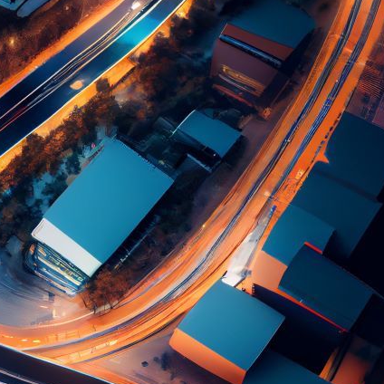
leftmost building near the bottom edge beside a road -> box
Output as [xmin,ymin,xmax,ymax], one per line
[160,279,284,384]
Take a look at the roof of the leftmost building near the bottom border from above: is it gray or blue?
blue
